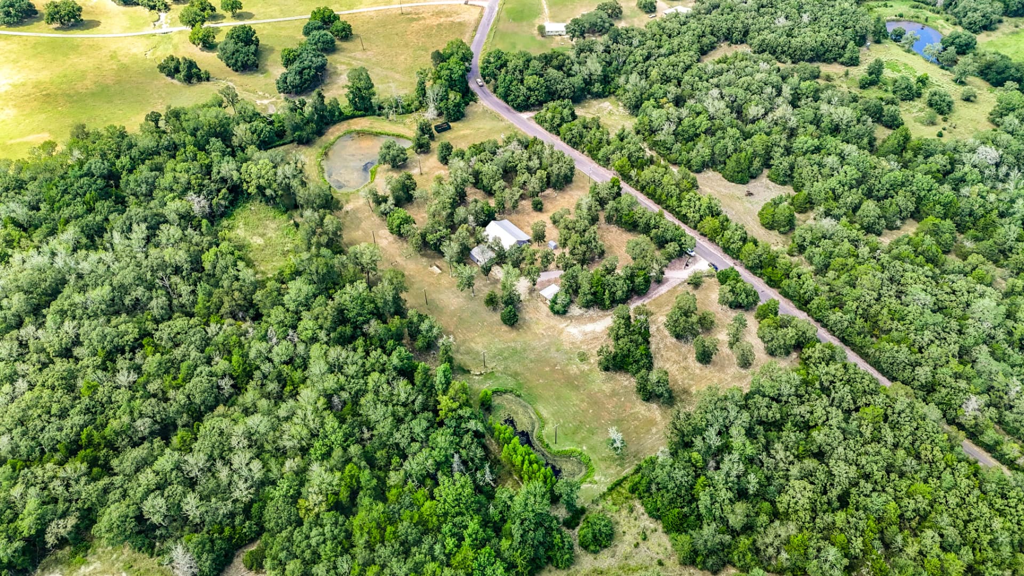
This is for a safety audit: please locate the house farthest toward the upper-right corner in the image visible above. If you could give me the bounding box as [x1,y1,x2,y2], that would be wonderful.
[657,5,694,19]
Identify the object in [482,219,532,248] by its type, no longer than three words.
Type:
house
